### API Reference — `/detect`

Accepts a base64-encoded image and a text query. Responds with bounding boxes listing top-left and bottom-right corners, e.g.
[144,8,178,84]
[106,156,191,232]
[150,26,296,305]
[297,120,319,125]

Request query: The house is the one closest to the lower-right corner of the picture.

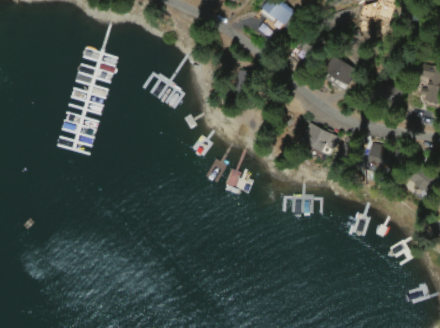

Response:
[405,172,434,198]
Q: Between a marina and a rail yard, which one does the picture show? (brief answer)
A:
marina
